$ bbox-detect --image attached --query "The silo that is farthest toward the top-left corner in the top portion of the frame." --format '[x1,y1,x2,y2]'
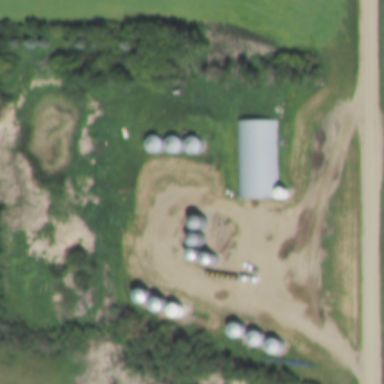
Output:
[144,134,166,154]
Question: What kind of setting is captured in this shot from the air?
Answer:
industrial area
